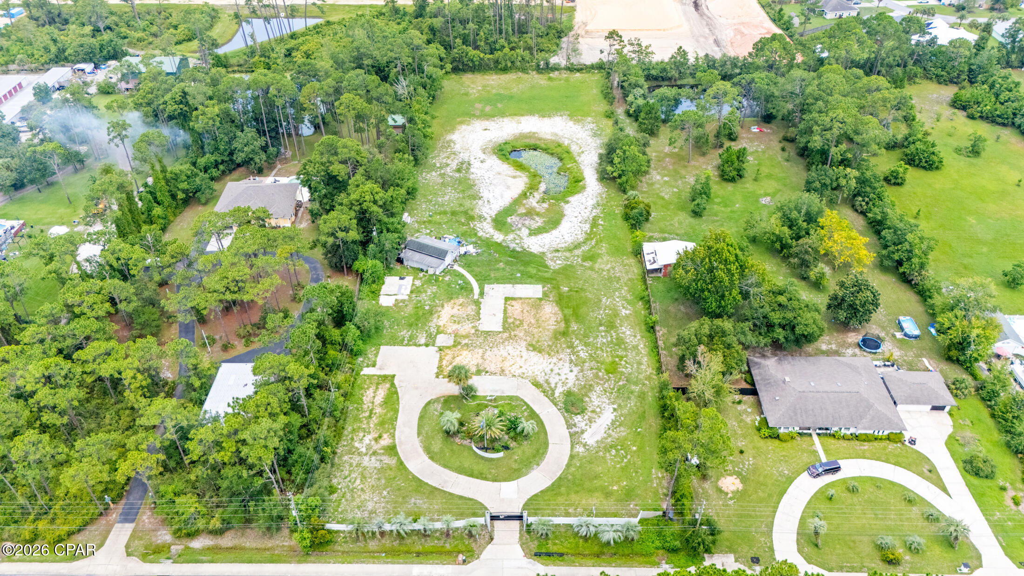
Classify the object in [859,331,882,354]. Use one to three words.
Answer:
trampoline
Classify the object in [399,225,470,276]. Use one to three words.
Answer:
building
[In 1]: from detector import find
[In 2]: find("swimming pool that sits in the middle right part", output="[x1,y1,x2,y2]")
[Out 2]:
[898,317,920,339]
